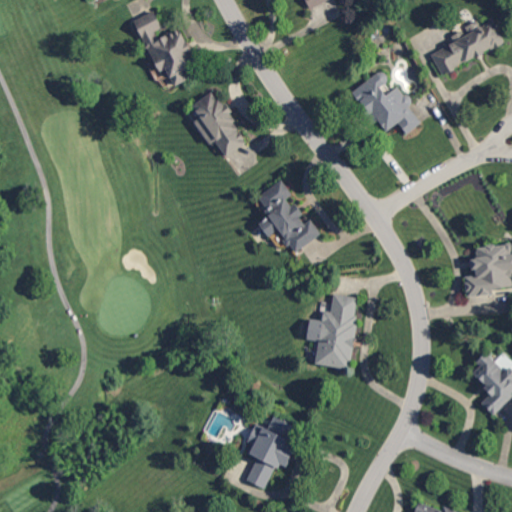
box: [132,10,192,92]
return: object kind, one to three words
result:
house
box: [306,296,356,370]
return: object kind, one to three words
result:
house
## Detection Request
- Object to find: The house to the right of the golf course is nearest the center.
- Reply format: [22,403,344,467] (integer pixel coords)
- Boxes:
[258,180,322,254]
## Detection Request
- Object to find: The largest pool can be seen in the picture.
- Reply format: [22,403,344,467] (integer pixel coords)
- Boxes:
[204,408,245,444]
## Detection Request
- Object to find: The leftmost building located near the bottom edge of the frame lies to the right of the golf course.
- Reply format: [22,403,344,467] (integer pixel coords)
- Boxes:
[244,416,294,492]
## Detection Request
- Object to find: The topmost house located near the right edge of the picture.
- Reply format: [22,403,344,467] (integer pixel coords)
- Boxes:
[430,21,505,79]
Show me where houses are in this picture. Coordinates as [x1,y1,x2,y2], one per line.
[348,68,424,136]
[132,10,192,92]
[258,180,322,254]
[473,351,512,418]
[191,90,242,158]
[306,296,356,370]
[458,240,512,302]
[430,21,505,79]
[244,416,294,492]
[414,502,454,512]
